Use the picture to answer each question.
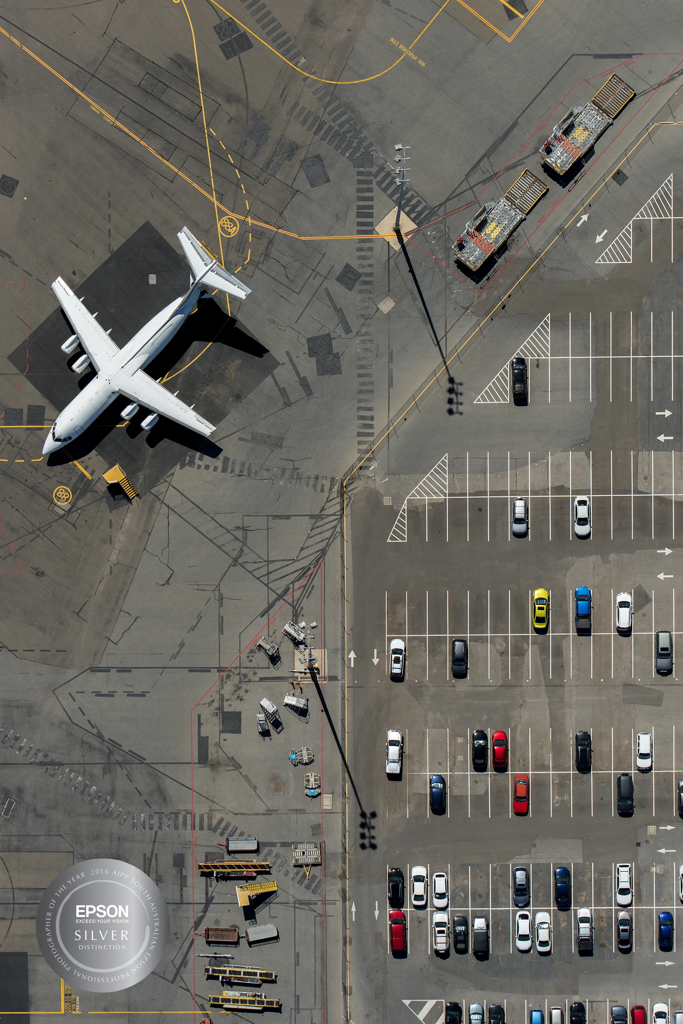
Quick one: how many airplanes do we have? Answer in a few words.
1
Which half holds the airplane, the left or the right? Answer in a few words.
left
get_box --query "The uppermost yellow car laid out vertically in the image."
[531,588,550,629]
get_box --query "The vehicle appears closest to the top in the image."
[541,76,639,176]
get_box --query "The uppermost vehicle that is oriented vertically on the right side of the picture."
[510,358,529,399]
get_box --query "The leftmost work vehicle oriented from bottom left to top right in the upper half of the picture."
[453,173,551,273]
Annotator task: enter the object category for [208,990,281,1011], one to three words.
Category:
work vehicle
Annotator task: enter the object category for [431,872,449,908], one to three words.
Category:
car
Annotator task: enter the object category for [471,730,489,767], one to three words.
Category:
car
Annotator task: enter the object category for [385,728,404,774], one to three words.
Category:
vehicle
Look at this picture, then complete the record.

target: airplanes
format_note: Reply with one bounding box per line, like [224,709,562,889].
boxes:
[42,226,253,455]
